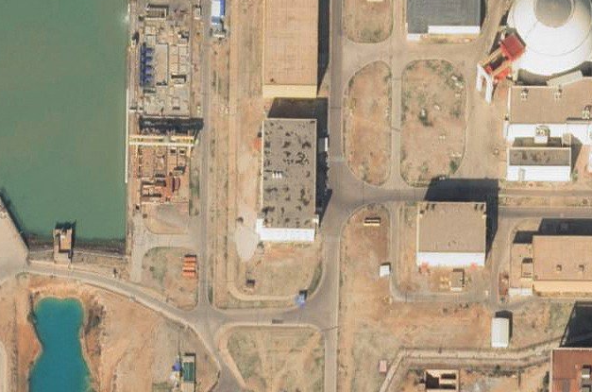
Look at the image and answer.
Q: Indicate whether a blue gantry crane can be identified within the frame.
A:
No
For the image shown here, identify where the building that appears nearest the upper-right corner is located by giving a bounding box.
[505,0,592,87]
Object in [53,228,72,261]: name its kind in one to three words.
building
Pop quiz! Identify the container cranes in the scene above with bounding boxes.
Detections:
[129,135,197,164]
[476,34,524,103]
